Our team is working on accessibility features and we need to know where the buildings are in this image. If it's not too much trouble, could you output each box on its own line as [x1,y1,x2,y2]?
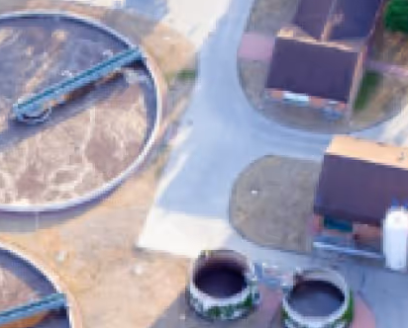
[267,0,382,122]
[309,135,408,253]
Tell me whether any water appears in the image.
Yes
